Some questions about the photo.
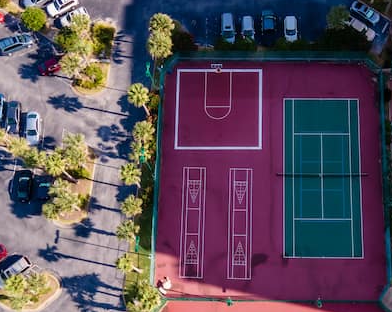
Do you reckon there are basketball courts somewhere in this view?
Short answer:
Yes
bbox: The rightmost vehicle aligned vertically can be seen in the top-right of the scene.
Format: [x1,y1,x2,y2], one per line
[283,14,299,45]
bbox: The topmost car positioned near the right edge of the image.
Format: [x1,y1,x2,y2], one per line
[348,0,379,25]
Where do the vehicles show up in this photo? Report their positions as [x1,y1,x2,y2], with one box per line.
[60,6,91,30]
[24,0,53,8]
[240,14,256,44]
[348,0,379,25]
[283,14,299,45]
[25,112,42,143]
[4,101,23,133]
[220,11,236,44]
[261,8,277,41]
[0,244,8,260]
[0,93,6,123]
[47,0,79,18]
[344,15,378,44]
[35,172,54,205]
[36,56,65,79]
[0,35,34,55]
